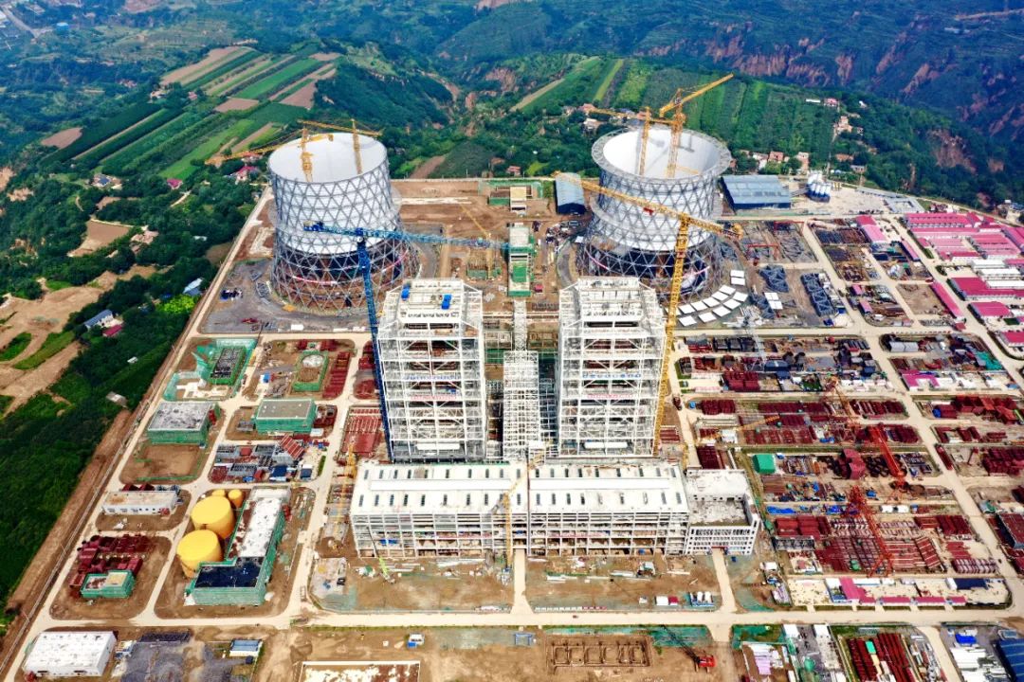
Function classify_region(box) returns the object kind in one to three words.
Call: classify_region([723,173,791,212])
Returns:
shed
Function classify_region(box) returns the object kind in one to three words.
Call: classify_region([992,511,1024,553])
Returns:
shed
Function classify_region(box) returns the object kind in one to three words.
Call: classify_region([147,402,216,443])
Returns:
building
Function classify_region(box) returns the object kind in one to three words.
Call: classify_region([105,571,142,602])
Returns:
building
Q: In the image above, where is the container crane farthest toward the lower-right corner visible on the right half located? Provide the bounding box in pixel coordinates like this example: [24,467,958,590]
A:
[845,490,898,575]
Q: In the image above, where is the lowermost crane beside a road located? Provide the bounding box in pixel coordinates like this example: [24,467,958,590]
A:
[664,625,720,666]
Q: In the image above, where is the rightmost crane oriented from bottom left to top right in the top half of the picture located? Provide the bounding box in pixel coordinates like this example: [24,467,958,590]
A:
[660,74,734,171]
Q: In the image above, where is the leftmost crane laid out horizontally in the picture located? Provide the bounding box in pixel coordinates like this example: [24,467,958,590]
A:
[206,130,333,179]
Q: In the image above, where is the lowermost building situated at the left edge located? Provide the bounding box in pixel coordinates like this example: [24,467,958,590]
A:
[26,630,122,682]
